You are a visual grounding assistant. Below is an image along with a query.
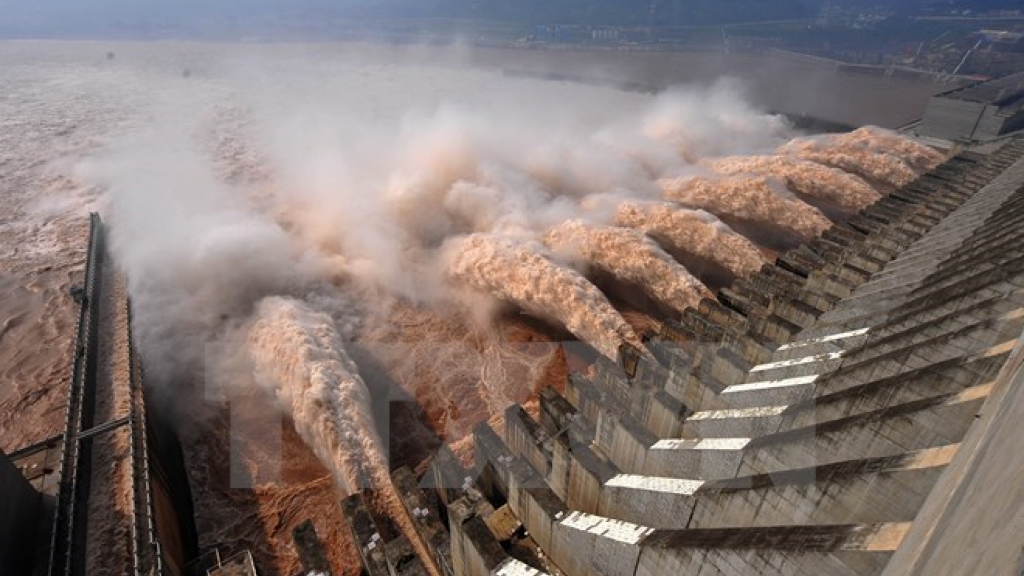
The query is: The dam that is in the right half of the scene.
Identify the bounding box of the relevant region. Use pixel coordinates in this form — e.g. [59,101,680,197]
[256,125,1024,576]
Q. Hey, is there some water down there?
Yes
